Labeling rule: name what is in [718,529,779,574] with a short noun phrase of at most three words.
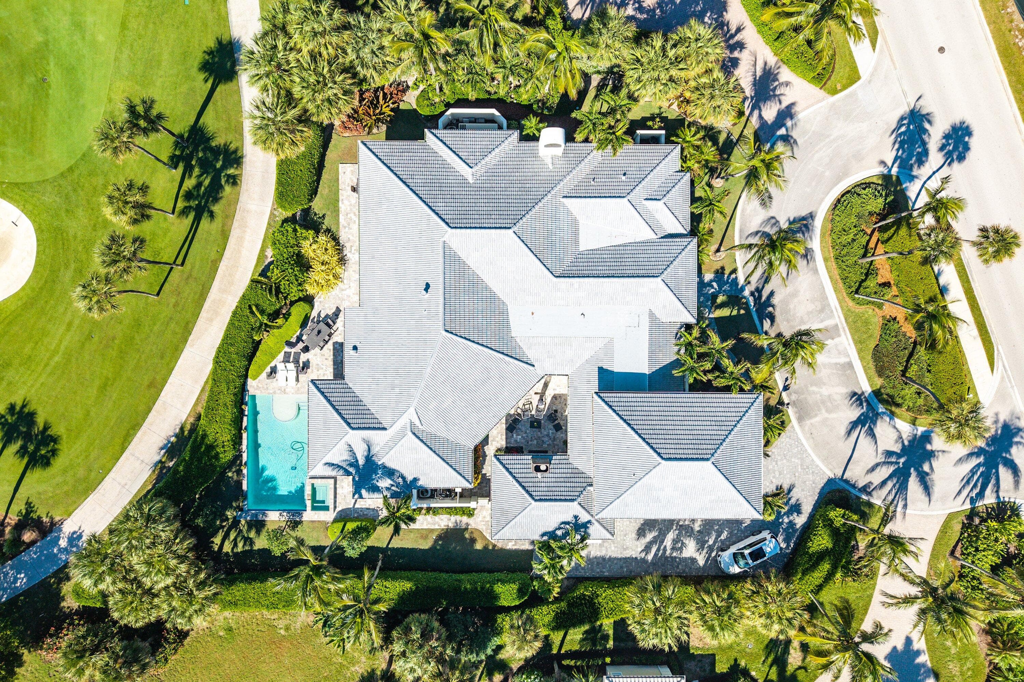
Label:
car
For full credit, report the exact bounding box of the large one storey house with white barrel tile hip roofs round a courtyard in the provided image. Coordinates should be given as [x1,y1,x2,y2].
[307,127,764,541]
